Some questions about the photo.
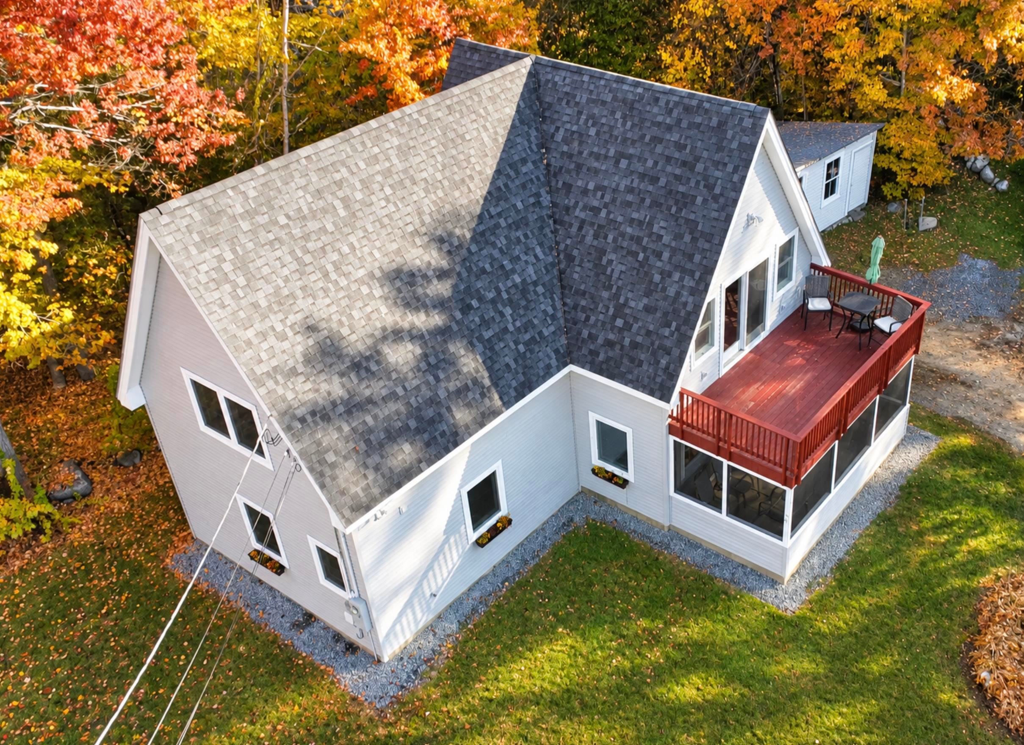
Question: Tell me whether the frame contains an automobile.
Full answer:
No, no automobile is visible in the scene.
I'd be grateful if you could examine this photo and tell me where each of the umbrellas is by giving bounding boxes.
[863,230,886,311]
